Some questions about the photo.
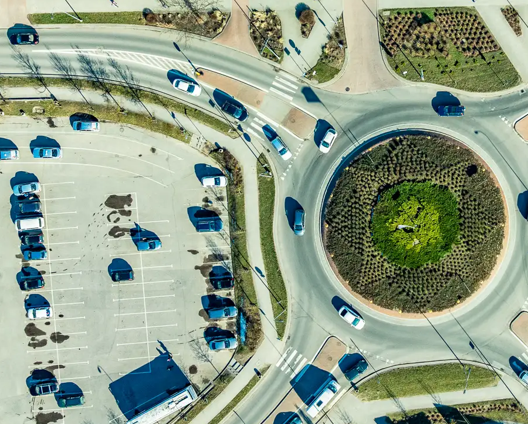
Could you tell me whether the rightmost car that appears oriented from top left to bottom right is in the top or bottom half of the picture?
bottom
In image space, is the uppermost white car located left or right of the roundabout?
on the left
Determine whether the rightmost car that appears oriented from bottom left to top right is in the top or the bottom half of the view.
bottom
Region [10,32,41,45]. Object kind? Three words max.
vehicle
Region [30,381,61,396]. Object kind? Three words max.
car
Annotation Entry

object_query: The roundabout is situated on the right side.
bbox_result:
[277,87,528,362]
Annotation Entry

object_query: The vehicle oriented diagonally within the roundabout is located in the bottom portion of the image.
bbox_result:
[338,305,366,330]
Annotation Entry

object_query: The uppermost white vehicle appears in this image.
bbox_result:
[172,77,204,97]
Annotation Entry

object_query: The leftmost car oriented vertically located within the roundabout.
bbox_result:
[294,209,306,236]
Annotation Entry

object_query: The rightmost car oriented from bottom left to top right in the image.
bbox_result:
[342,359,369,382]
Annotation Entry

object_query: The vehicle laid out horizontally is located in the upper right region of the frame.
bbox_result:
[437,106,468,118]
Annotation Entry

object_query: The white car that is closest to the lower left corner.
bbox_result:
[28,305,55,319]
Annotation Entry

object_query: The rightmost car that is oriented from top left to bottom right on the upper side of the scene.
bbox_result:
[267,134,295,162]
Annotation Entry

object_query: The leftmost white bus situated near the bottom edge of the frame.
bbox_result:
[129,383,207,424]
